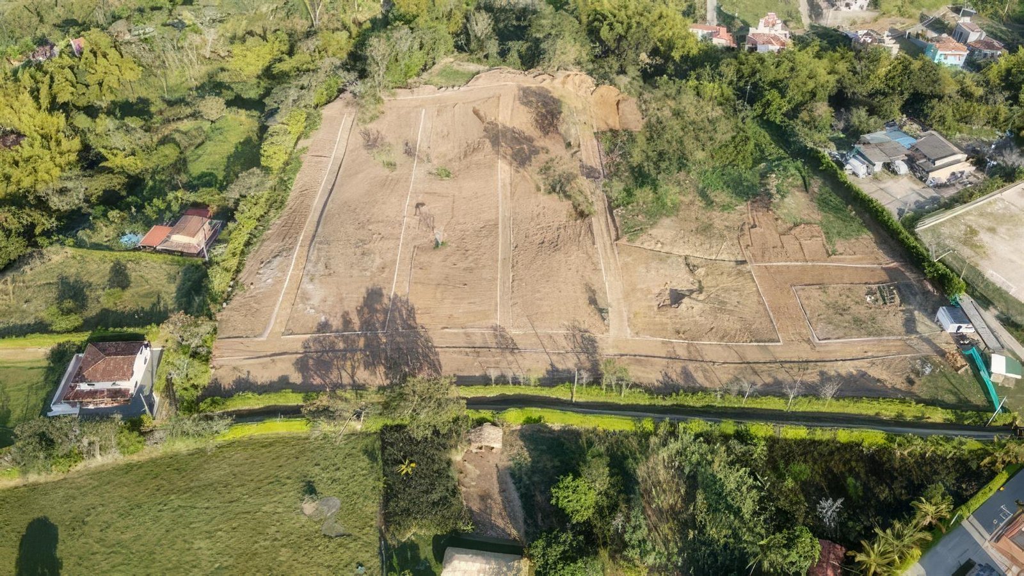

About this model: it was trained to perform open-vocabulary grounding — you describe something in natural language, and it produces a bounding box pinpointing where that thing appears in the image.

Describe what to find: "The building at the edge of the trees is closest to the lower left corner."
[49,340,155,421]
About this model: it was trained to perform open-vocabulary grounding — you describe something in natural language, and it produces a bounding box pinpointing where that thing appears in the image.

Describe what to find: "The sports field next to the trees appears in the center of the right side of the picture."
[917,184,1024,303]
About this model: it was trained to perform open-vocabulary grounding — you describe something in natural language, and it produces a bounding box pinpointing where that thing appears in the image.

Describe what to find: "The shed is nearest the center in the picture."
[471,425,503,453]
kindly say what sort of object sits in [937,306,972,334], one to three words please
building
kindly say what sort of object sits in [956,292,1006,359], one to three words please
shed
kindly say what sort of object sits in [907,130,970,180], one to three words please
building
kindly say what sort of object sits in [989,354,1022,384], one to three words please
shed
